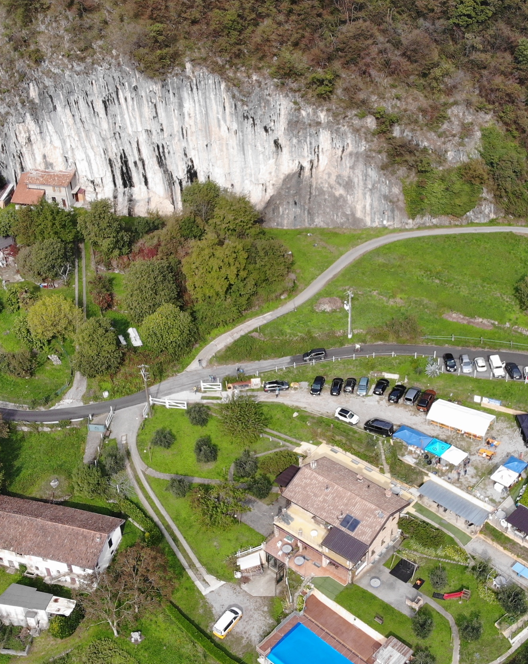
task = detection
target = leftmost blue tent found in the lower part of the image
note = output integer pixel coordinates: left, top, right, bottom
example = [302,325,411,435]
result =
[394,425,434,452]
